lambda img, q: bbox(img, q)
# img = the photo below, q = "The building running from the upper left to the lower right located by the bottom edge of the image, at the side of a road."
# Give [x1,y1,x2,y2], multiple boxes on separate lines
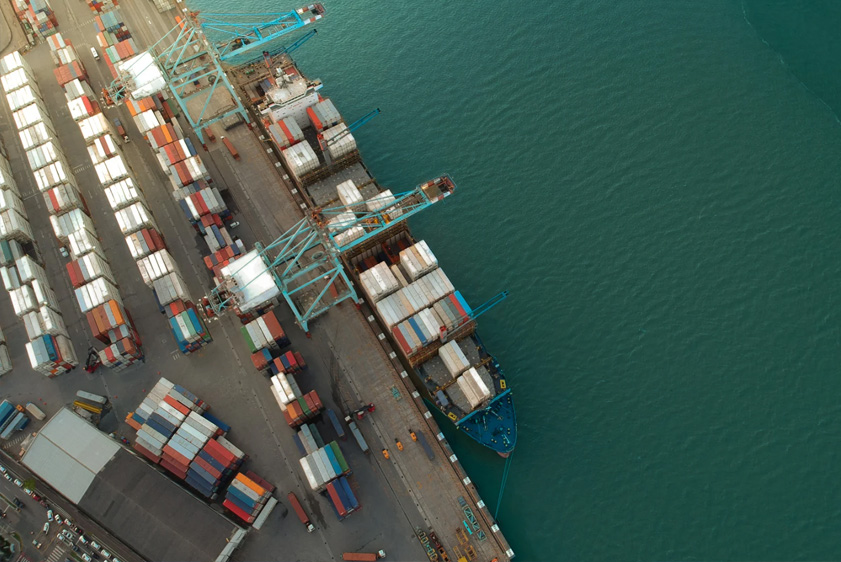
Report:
[19,407,252,562]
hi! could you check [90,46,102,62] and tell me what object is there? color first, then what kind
white vehicle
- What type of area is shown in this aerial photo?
port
